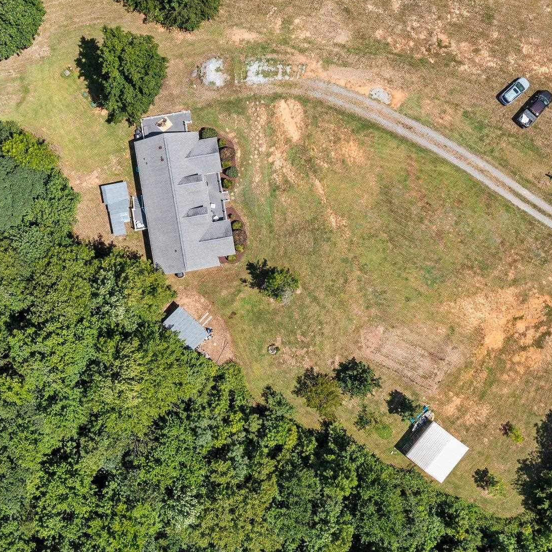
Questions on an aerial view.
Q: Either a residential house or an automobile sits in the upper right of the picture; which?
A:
automobile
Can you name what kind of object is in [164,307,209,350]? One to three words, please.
shed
